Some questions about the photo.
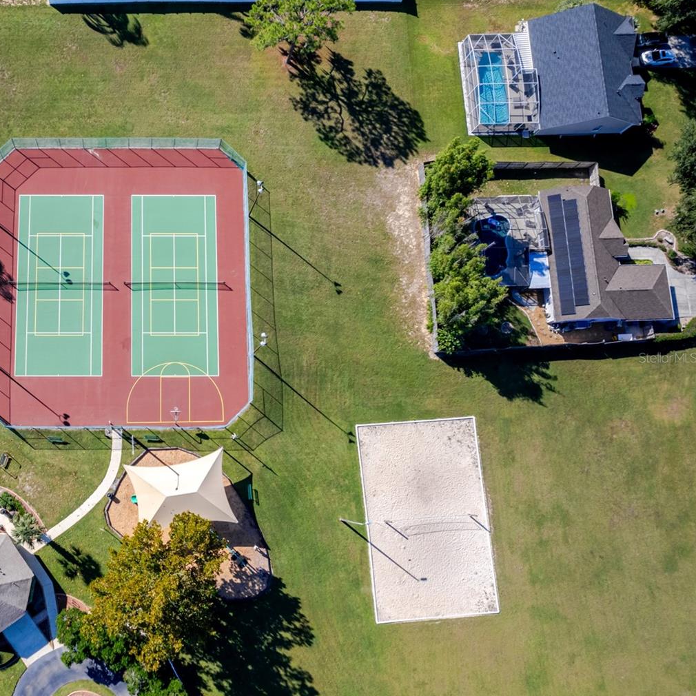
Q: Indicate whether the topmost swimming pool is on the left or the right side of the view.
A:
right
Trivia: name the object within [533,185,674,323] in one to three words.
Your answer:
house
